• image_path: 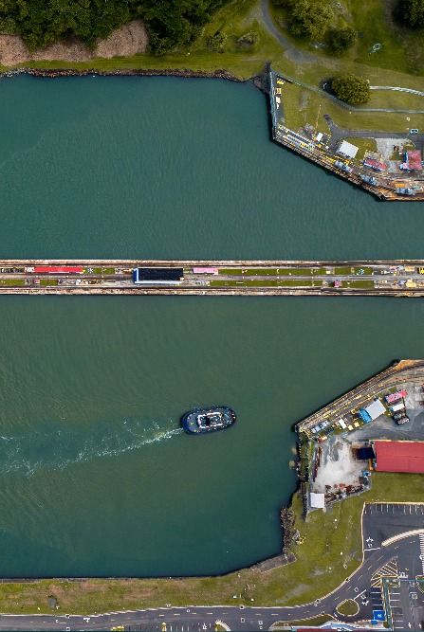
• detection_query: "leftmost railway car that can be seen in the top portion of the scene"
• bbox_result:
[332,161,352,174]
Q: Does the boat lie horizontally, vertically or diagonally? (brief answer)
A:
horizontally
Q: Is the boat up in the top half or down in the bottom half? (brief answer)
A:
bottom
